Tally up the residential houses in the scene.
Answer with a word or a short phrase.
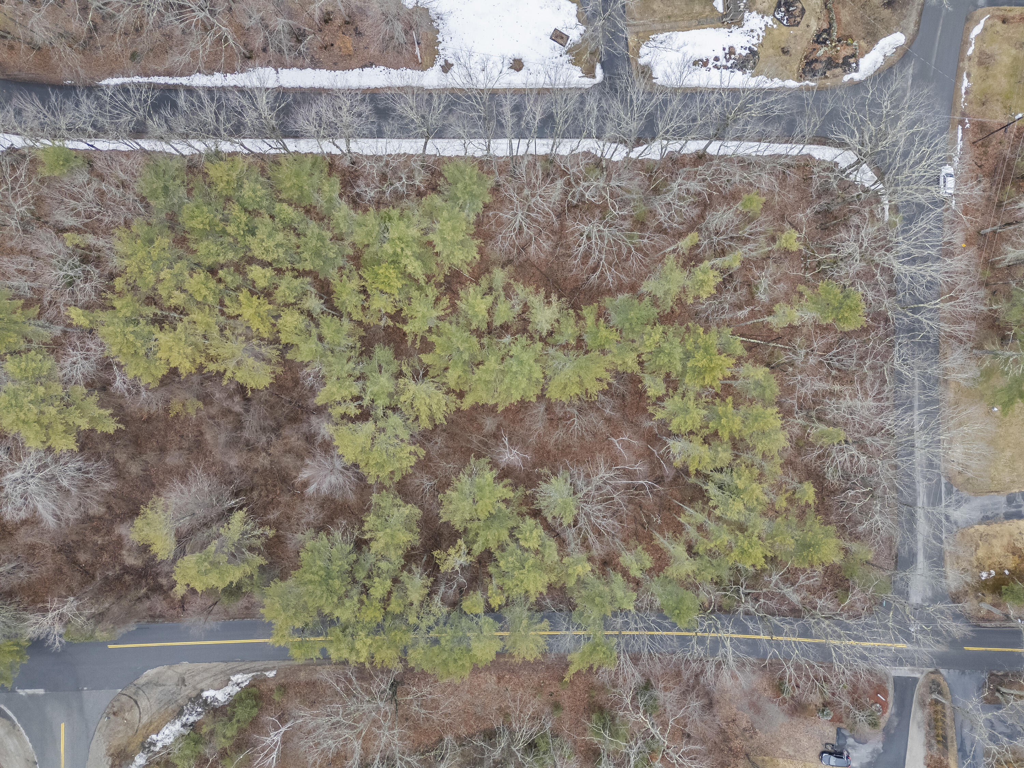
0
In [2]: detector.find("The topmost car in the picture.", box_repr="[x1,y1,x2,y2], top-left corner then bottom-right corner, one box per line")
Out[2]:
[940,164,958,195]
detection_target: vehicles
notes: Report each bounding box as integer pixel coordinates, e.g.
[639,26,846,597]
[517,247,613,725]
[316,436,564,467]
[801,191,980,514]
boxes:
[819,752,851,768]
[940,164,958,195]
